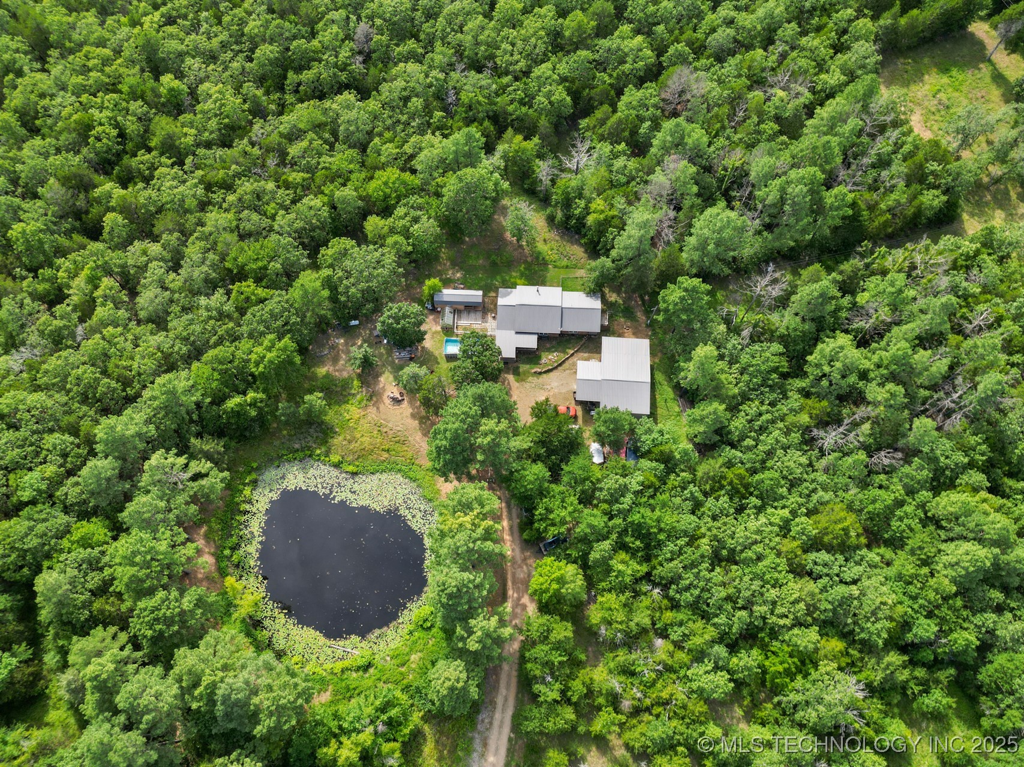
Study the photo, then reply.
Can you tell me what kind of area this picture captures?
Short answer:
forest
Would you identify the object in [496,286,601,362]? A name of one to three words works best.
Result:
house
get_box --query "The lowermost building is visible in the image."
[576,338,651,419]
